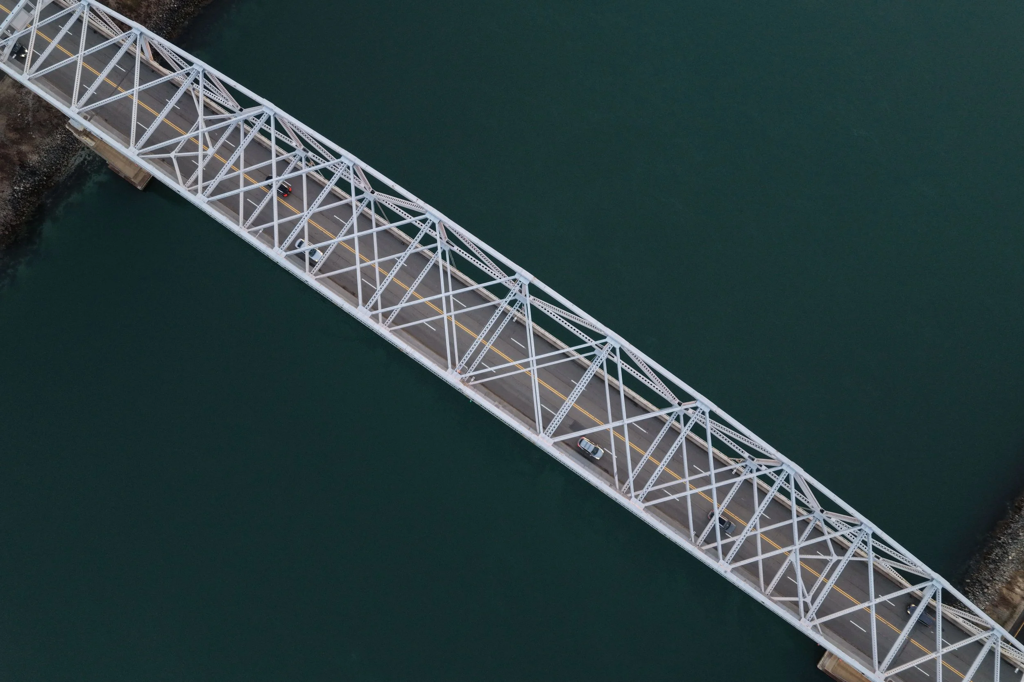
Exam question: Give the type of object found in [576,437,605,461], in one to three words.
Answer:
car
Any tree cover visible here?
No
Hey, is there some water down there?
Yes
